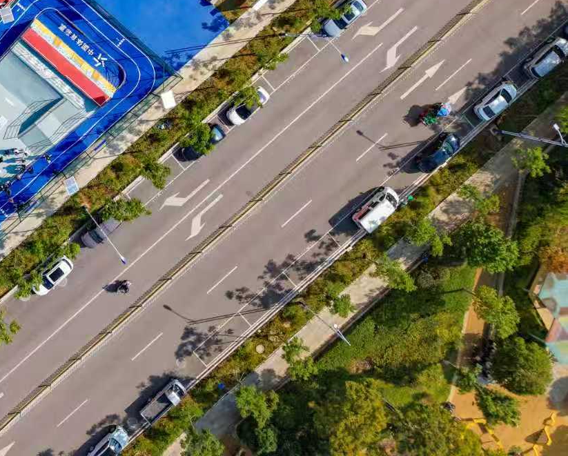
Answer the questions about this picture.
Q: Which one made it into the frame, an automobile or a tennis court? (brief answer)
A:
automobile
